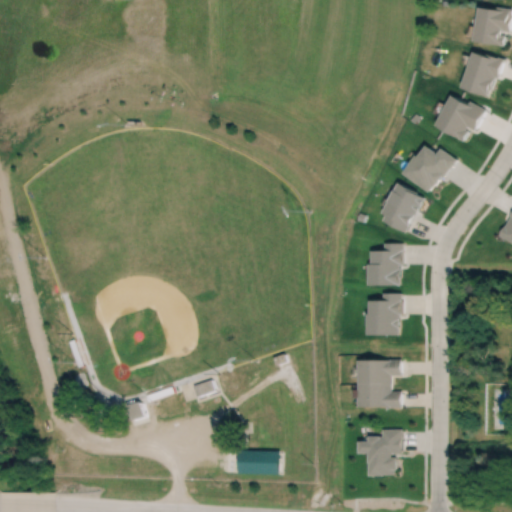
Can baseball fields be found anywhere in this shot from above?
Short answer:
Yes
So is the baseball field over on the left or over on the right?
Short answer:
left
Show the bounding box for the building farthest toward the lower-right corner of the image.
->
[357,428,406,476]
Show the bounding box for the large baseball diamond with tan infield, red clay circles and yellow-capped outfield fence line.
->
[26,128,312,404]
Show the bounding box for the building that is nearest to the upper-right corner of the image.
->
[472,6,512,48]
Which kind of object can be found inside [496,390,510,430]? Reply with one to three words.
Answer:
swimming pool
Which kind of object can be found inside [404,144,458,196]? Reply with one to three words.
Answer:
house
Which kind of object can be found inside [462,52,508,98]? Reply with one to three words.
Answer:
house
